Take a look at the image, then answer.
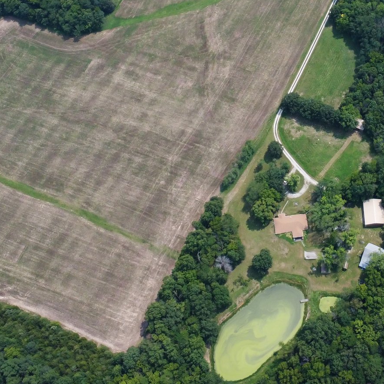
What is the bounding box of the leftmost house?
[273,213,308,244]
